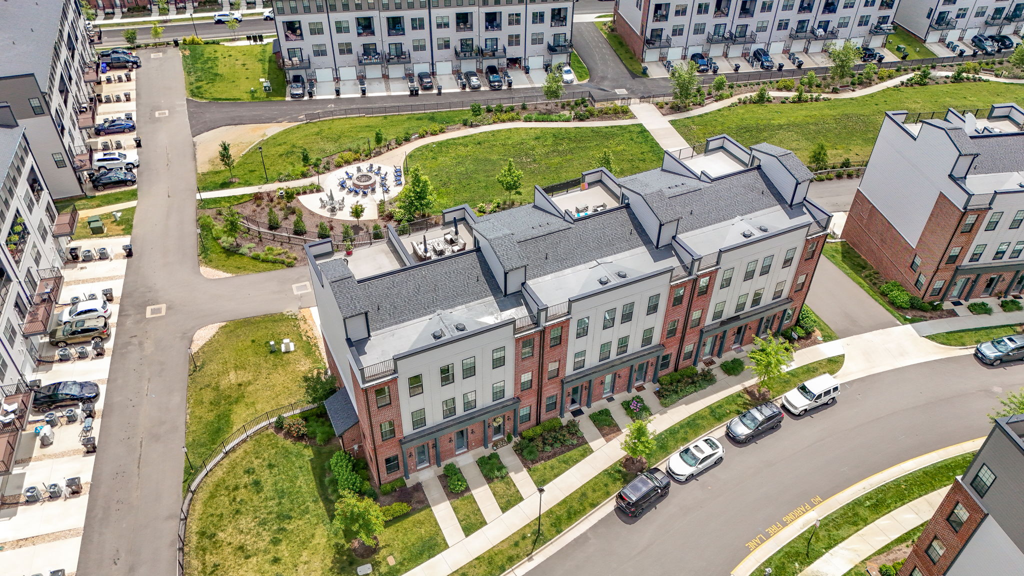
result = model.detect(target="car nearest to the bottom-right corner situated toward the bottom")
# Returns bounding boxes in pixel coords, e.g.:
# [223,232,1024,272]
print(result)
[980,338,1024,372]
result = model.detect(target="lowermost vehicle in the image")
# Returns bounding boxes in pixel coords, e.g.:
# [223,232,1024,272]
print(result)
[613,471,676,520]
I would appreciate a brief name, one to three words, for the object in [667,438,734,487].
car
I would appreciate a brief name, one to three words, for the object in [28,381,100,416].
car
